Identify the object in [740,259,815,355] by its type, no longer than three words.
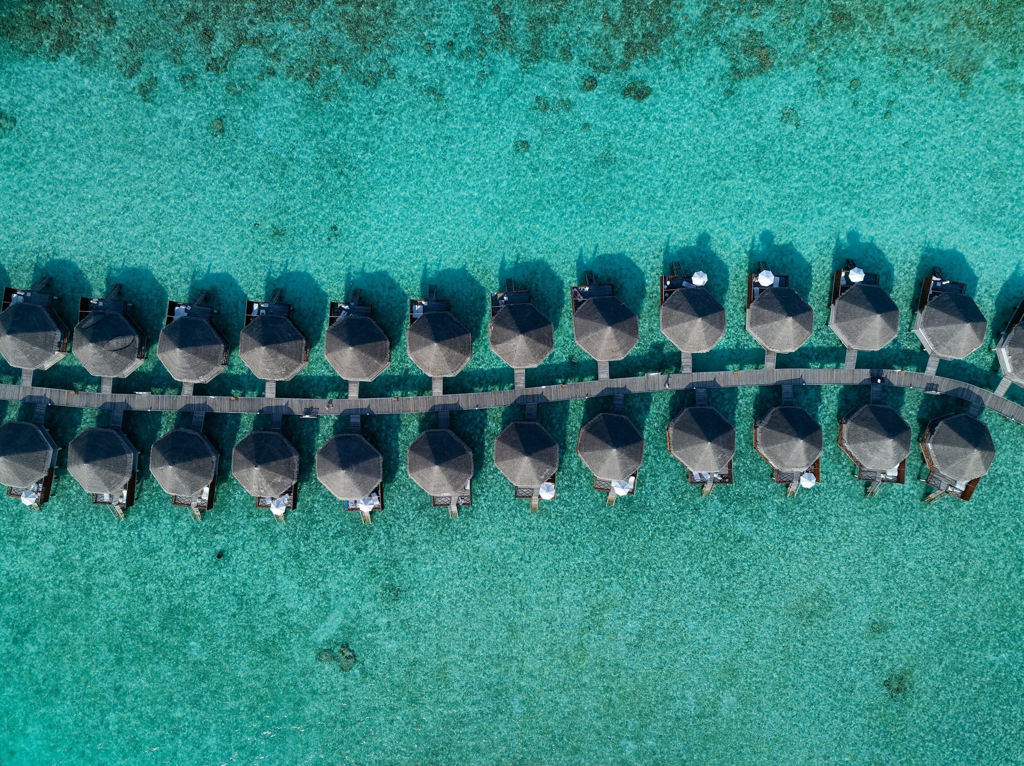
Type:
house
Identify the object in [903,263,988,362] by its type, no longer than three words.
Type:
house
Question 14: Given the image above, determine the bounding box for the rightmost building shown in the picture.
[984,287,1024,375]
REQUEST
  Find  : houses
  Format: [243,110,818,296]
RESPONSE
[232,428,306,521]
[740,259,815,355]
[903,263,988,362]
[656,260,727,355]
[0,418,69,514]
[574,411,647,505]
[157,287,239,385]
[405,283,475,379]
[67,425,148,519]
[71,282,157,379]
[984,287,1024,375]
[323,286,397,383]
[821,256,901,352]
[911,410,999,506]
[492,420,561,512]
[238,285,315,383]
[571,269,640,364]
[829,402,912,495]
[315,432,385,524]
[148,426,227,521]
[406,428,476,520]
[486,275,556,371]
[0,273,73,372]
[746,404,823,497]
[661,405,736,498]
